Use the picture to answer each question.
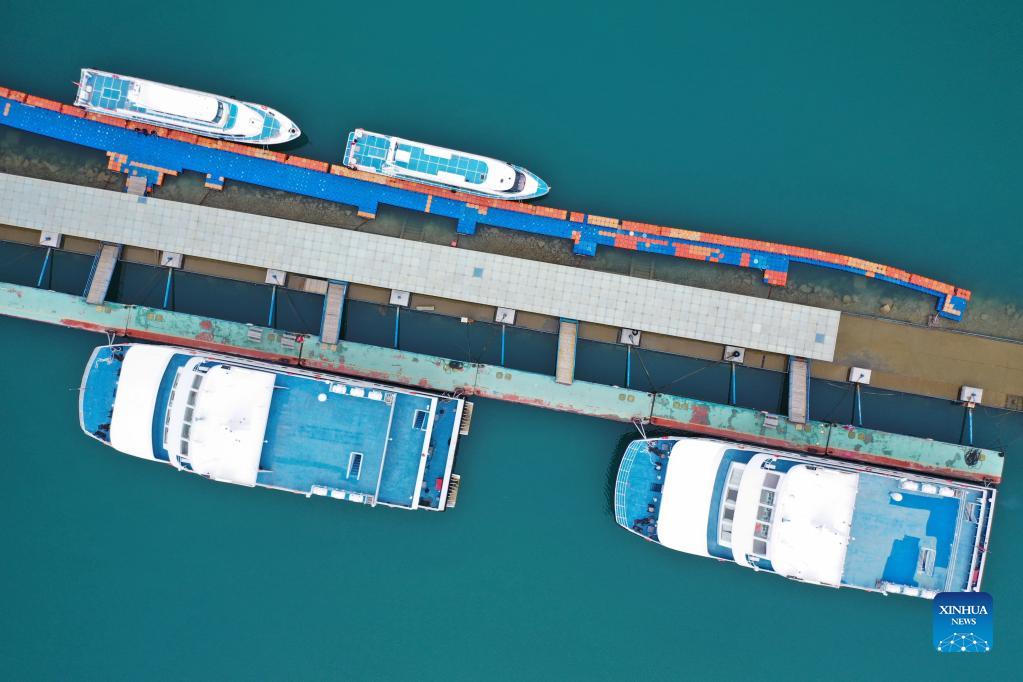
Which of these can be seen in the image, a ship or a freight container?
ship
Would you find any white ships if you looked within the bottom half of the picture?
Yes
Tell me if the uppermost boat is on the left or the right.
left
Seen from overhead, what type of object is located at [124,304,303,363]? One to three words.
ship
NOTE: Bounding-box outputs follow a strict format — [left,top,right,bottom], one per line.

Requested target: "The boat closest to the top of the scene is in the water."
[70,69,302,143]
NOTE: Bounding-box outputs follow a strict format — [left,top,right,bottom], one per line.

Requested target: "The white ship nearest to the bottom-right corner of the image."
[612,435,996,604]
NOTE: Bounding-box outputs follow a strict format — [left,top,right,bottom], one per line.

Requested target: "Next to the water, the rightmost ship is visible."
[823,421,1001,482]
